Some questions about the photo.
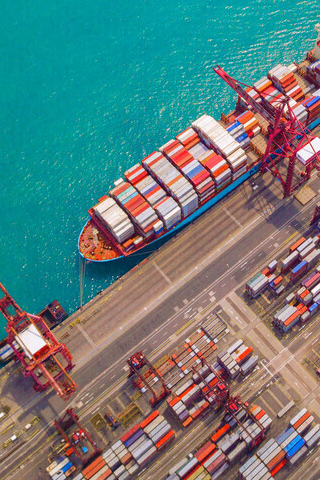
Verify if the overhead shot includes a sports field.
No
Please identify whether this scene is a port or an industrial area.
port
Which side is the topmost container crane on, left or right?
right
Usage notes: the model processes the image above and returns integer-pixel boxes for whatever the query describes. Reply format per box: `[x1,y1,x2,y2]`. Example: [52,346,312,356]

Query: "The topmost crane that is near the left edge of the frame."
[0,279,79,397]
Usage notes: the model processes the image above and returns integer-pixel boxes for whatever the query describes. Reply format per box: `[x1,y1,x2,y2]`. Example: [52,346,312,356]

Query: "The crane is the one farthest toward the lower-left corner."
[52,408,104,468]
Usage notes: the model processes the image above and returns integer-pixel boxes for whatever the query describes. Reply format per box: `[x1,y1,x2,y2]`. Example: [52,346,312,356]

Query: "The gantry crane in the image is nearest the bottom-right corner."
[222,390,270,449]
